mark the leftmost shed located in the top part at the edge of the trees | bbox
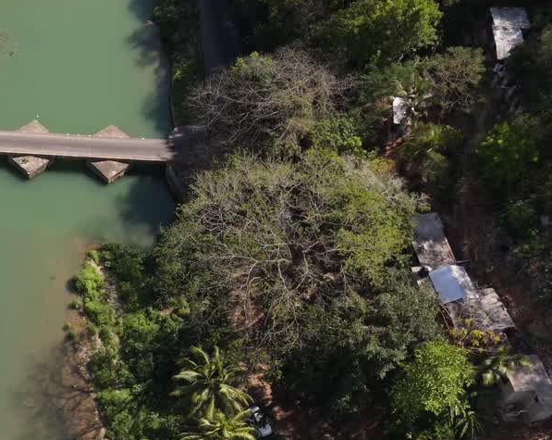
[389,97,412,134]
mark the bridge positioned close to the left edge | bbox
[0,120,174,184]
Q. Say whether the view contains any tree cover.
Yes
